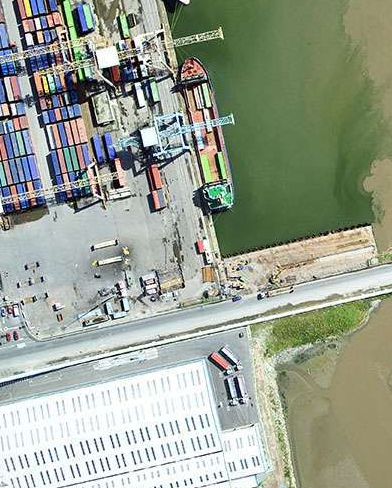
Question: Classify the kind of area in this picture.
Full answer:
What you see here is a port.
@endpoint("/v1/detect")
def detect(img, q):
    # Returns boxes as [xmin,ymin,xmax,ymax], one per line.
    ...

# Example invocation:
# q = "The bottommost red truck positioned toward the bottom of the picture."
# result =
[208,353,231,375]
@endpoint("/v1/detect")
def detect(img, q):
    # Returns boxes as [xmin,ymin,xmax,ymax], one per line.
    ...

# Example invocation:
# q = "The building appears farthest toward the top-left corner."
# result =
[93,91,117,125]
